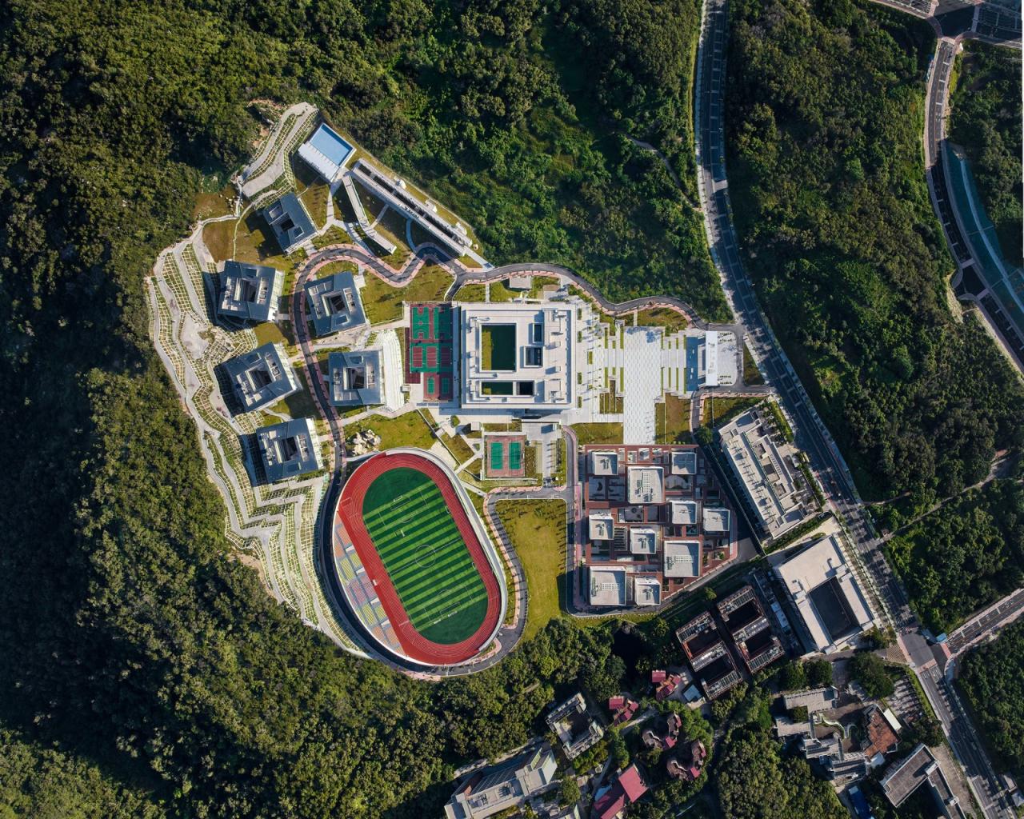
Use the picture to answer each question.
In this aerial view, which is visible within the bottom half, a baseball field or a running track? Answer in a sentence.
Visible within the bottom half is a running track.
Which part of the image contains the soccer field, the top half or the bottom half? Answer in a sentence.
The soccer field is in the bottom half of the image.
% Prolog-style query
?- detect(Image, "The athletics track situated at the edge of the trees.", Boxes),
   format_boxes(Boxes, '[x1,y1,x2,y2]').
[338,453,501,666]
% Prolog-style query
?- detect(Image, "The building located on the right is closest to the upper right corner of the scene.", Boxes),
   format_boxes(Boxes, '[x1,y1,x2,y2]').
[704,331,718,386]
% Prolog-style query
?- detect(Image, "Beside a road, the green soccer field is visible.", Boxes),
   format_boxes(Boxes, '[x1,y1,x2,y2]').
[363,467,488,644]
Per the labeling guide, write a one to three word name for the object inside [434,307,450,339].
basketball court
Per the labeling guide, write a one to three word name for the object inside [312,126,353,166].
swimming pool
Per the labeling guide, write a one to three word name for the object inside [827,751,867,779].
building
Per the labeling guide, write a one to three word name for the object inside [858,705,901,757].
house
